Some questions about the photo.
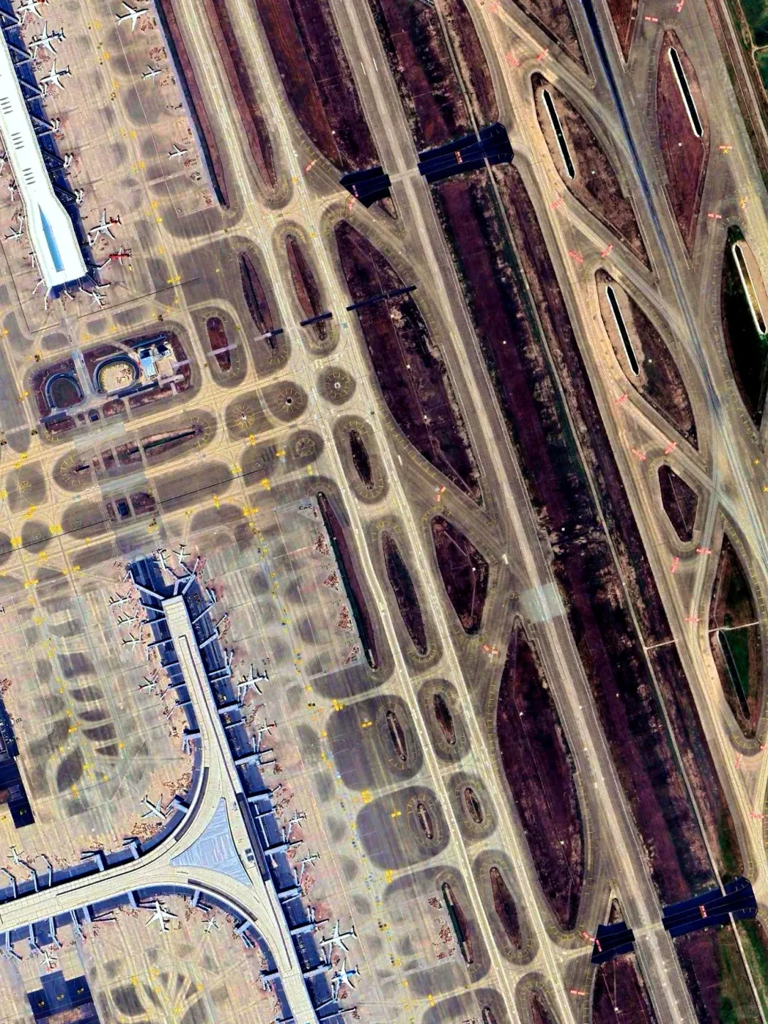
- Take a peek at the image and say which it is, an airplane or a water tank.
airplane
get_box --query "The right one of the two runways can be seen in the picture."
[567,0,768,565]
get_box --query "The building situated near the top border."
[0,30,87,287]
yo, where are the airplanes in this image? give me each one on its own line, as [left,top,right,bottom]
[301,851,320,867]
[259,719,276,736]
[90,211,121,241]
[321,925,356,956]
[109,246,130,265]
[201,917,217,934]
[39,952,56,971]
[117,614,135,631]
[237,666,269,697]
[5,228,23,245]
[90,291,106,309]
[5,847,22,863]
[109,595,129,612]
[28,23,65,55]
[332,962,361,992]
[146,901,177,935]
[114,2,148,31]
[289,811,307,828]
[17,0,48,18]
[139,795,165,819]
[152,550,170,570]
[167,146,187,163]
[172,546,190,563]
[141,67,161,84]
[40,60,72,90]
[138,679,157,696]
